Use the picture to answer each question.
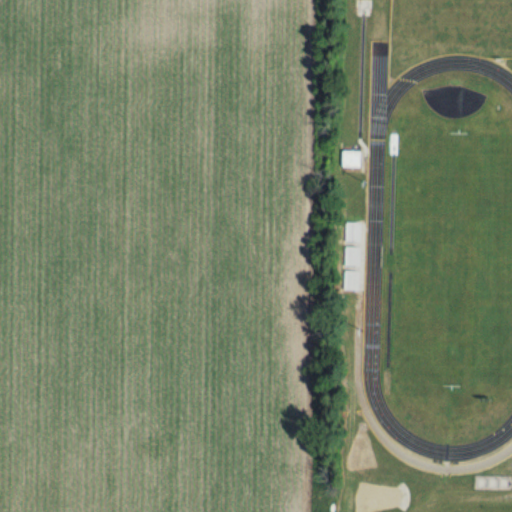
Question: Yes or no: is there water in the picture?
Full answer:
No, the scene doesn't show any water.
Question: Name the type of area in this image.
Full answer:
What you see here is farmland.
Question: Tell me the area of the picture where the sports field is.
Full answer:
The sports field appears toward the right of the photo.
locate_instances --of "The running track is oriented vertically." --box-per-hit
[365,41,512,460]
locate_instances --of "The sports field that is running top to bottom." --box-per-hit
[380,71,512,446]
